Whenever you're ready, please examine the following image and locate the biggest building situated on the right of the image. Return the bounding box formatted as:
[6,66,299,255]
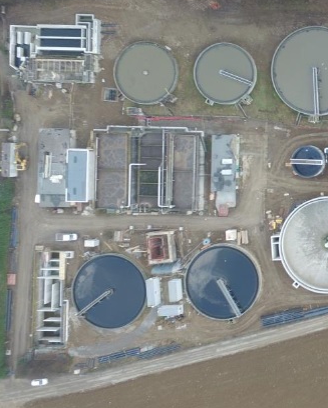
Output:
[211,136,241,208]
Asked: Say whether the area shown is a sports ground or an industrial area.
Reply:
industrial area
